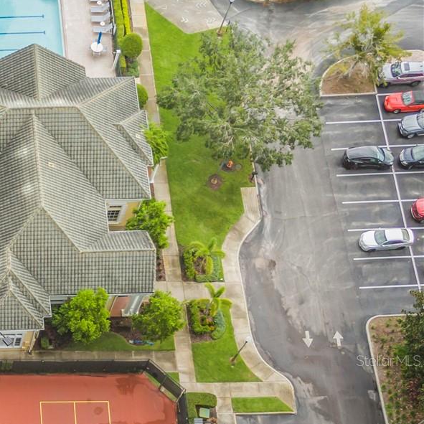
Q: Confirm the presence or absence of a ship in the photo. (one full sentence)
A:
No, there's no ship here.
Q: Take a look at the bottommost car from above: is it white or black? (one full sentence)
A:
The bottommost car looks white in the image.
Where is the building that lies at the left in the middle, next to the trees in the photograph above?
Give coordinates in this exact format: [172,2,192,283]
[0,47,160,349]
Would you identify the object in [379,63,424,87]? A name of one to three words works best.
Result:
car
